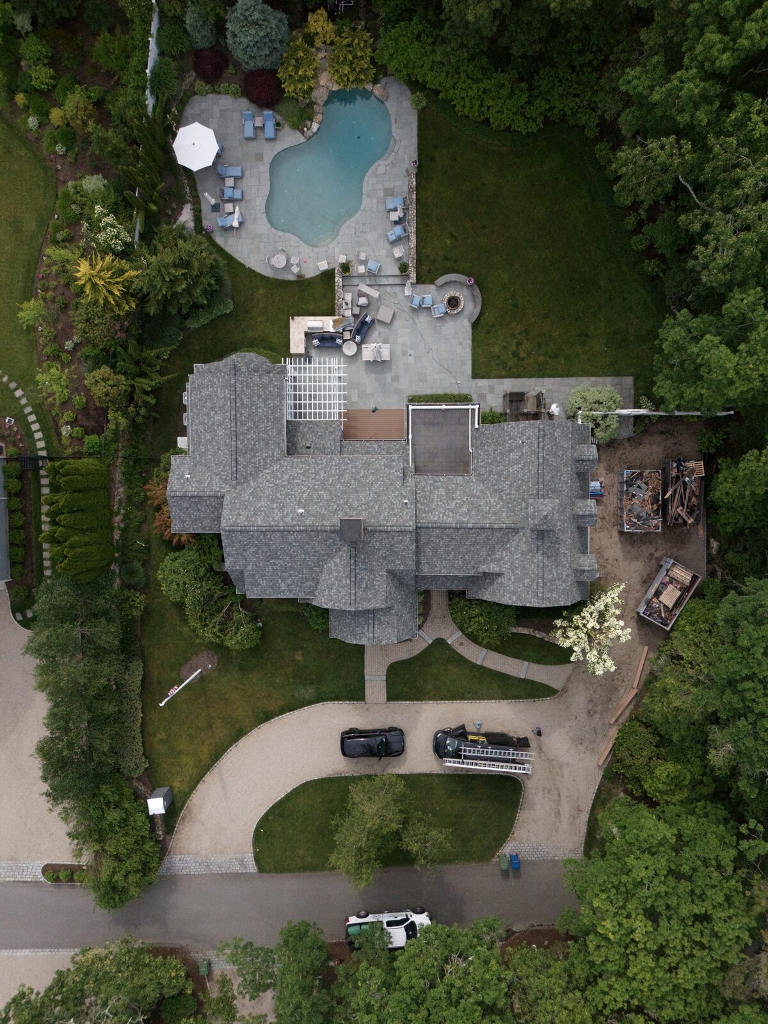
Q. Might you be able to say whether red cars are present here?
No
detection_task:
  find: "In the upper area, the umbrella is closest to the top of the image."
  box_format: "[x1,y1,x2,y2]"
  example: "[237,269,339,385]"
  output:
[174,126,219,172]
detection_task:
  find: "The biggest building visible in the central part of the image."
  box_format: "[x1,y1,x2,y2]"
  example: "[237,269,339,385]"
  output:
[163,353,601,645]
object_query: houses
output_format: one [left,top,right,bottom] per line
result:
[0,458,11,583]
[163,353,601,645]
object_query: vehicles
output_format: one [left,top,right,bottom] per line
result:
[347,910,431,950]
[431,724,524,770]
[341,726,405,759]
